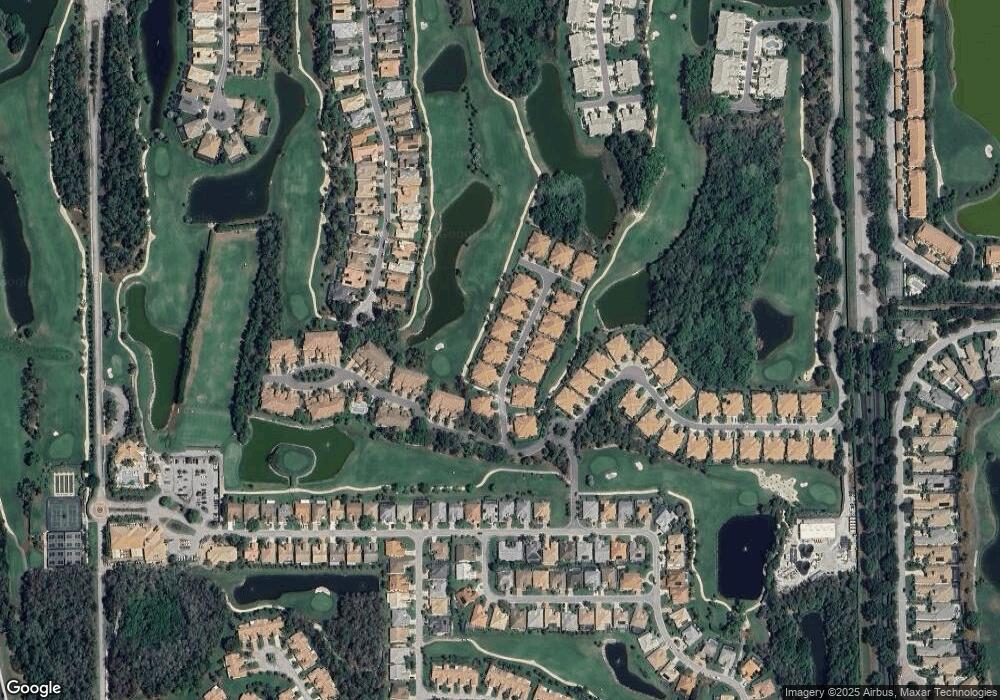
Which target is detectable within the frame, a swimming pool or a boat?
swimming pool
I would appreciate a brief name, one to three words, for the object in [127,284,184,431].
pond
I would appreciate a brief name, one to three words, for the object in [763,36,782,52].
swimming pool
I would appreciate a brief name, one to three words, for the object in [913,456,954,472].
house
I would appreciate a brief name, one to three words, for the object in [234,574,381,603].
pond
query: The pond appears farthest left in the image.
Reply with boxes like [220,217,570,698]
[0,173,33,328]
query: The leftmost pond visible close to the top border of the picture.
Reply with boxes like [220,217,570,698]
[141,0,177,130]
